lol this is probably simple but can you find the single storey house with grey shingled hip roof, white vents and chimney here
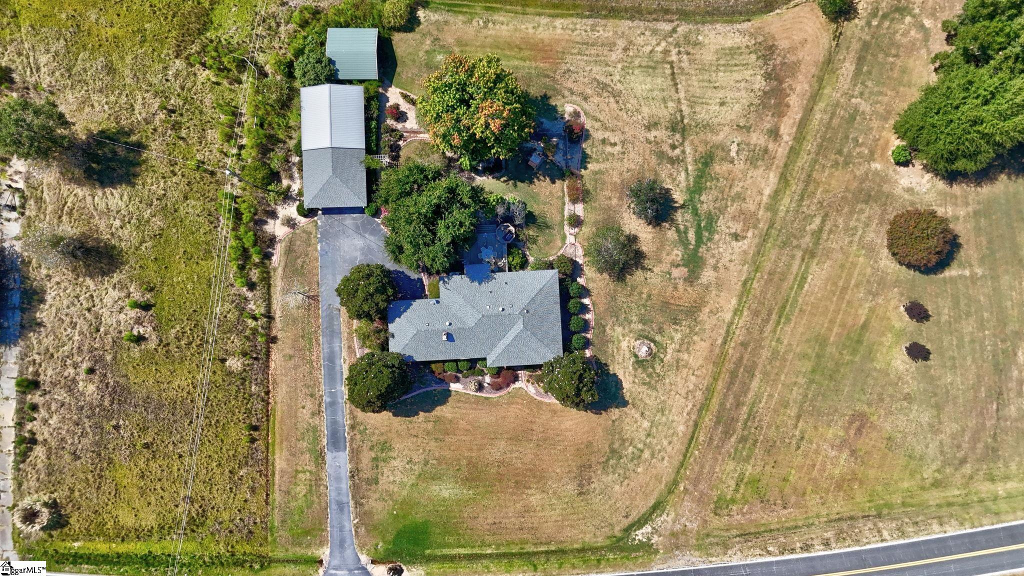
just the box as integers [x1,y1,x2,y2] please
[387,263,563,368]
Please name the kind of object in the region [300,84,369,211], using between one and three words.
building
